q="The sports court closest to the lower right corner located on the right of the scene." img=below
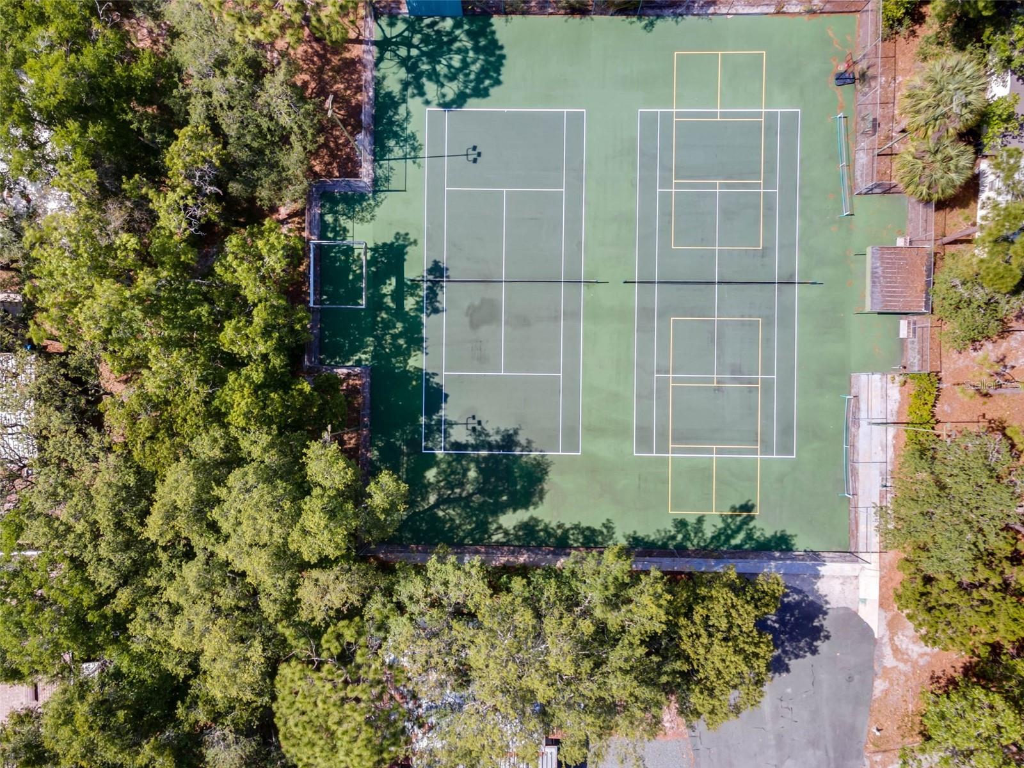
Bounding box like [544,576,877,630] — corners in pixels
[669,318,762,514]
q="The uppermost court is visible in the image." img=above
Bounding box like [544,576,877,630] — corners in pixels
[672,51,765,248]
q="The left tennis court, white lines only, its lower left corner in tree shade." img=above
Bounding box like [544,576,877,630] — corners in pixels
[422,109,586,455]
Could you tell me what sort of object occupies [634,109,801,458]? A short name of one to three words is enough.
tennis court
